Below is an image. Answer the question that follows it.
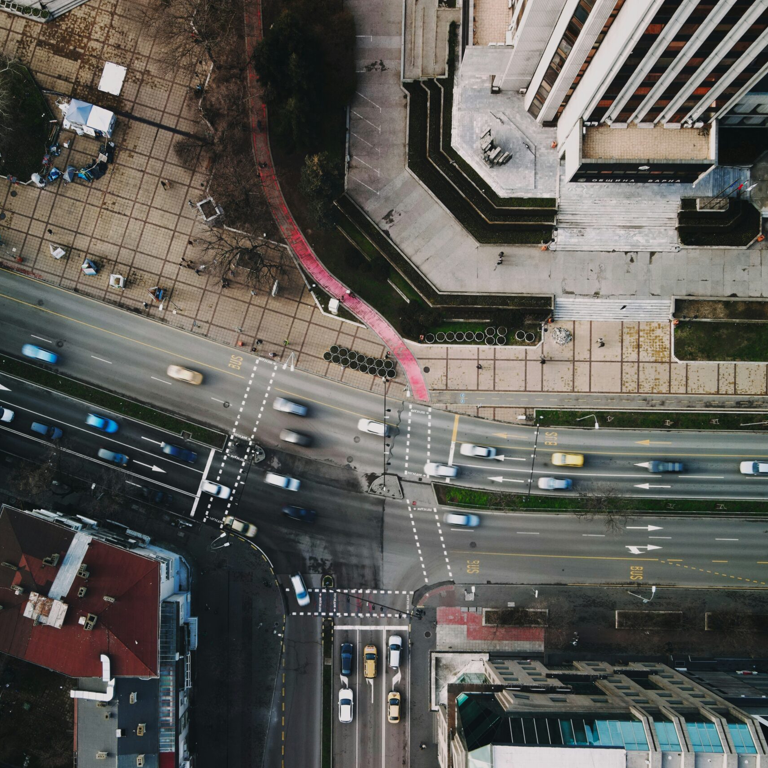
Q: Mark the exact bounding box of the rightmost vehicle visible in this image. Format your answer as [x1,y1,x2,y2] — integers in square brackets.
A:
[739,458,768,475]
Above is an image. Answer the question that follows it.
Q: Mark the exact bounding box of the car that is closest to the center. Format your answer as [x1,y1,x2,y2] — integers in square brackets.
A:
[355,418,392,436]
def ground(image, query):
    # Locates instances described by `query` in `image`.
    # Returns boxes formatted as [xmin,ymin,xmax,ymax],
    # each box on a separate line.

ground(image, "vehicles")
[338,642,355,678]
[551,450,584,467]
[386,689,402,725]
[739,458,768,475]
[0,407,16,423]
[445,511,477,528]
[288,572,310,605]
[139,483,176,504]
[86,412,119,434]
[25,345,57,366]
[279,428,312,447]
[461,441,494,458]
[198,477,232,500]
[363,643,378,680]
[355,418,392,436]
[262,471,301,491]
[337,687,355,724]
[95,445,133,468]
[223,516,258,537]
[158,439,198,464]
[425,462,458,477]
[271,396,310,418]
[168,365,204,387]
[386,634,403,670]
[537,475,573,492]
[646,456,685,473]
[28,419,65,441]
